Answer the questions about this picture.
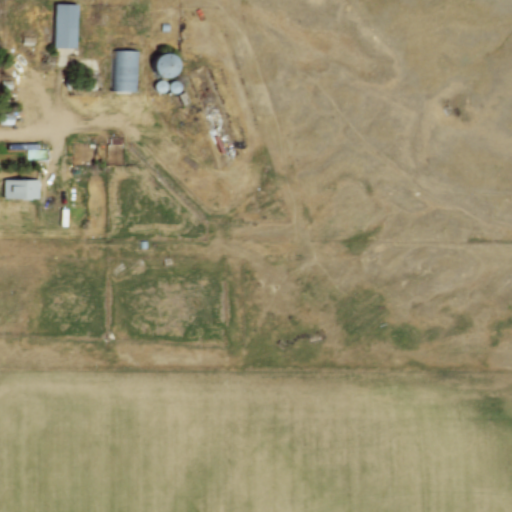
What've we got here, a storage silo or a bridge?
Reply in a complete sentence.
I can see a storage silo in this picture.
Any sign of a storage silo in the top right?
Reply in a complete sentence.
No, looking in the top right, there is no storage silo.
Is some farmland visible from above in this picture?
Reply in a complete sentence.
Yes, there's farmland in this view.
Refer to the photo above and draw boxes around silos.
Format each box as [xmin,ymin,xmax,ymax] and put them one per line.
[156,53,184,82]
[170,80,185,96]
[156,80,170,96]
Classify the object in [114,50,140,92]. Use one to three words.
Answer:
barn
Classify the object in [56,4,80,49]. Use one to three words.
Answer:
shed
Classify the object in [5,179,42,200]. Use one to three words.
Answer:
house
